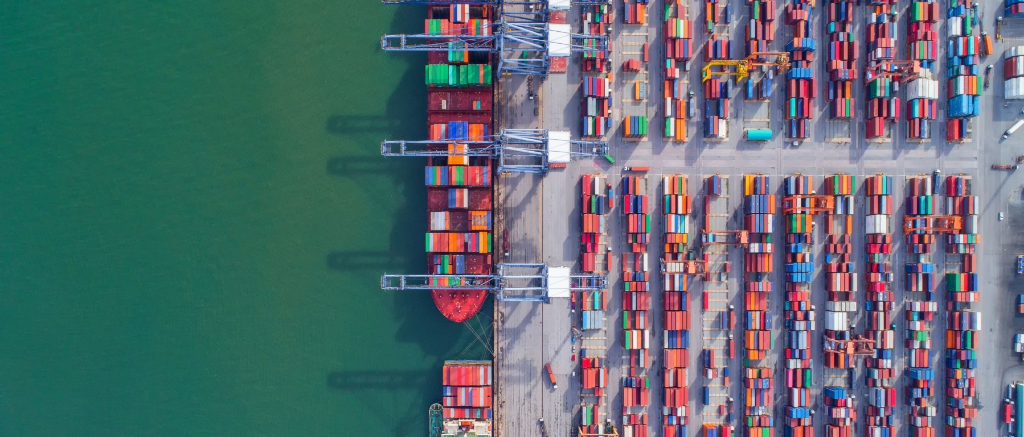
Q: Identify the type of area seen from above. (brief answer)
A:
port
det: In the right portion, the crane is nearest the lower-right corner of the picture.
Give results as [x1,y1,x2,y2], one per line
[822,333,875,359]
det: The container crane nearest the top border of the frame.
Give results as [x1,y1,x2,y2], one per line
[379,0,609,43]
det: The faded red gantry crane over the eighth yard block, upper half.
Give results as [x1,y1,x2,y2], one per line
[863,59,921,87]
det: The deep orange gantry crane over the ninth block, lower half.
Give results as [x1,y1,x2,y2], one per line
[903,214,963,236]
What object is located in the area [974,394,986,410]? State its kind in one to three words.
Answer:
vehicle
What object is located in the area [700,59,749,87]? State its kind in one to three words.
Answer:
crane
